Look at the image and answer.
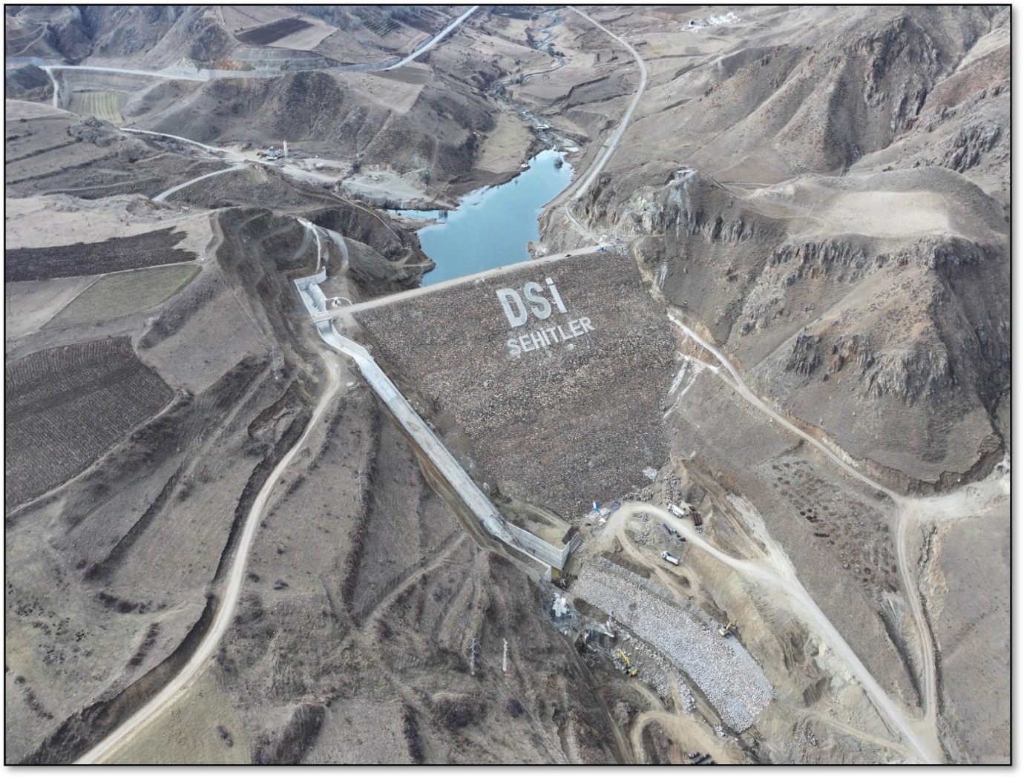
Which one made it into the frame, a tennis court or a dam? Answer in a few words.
dam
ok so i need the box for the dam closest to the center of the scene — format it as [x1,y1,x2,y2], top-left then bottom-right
[328,242,679,529]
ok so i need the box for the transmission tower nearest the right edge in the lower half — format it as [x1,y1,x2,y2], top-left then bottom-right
[464,634,479,674]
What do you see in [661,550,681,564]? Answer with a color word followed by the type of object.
white vehicle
